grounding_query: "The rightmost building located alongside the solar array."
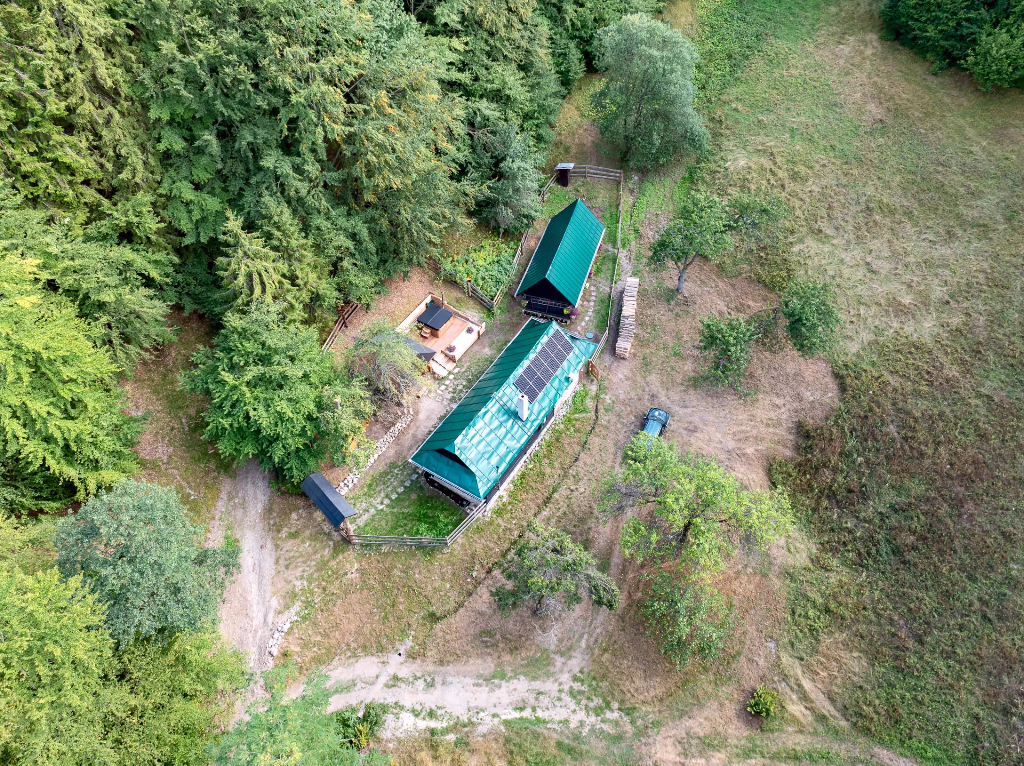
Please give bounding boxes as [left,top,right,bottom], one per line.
[515,197,607,328]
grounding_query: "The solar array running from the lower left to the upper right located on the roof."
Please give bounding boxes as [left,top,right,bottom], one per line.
[514,327,574,404]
